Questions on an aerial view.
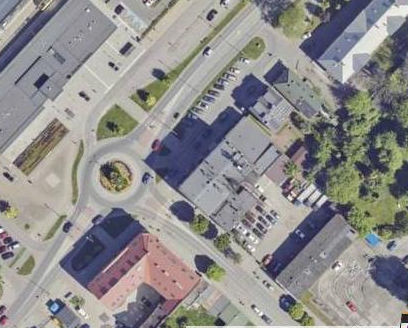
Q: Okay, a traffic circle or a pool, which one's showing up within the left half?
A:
traffic circle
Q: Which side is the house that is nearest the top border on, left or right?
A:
right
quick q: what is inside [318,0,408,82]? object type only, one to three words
house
